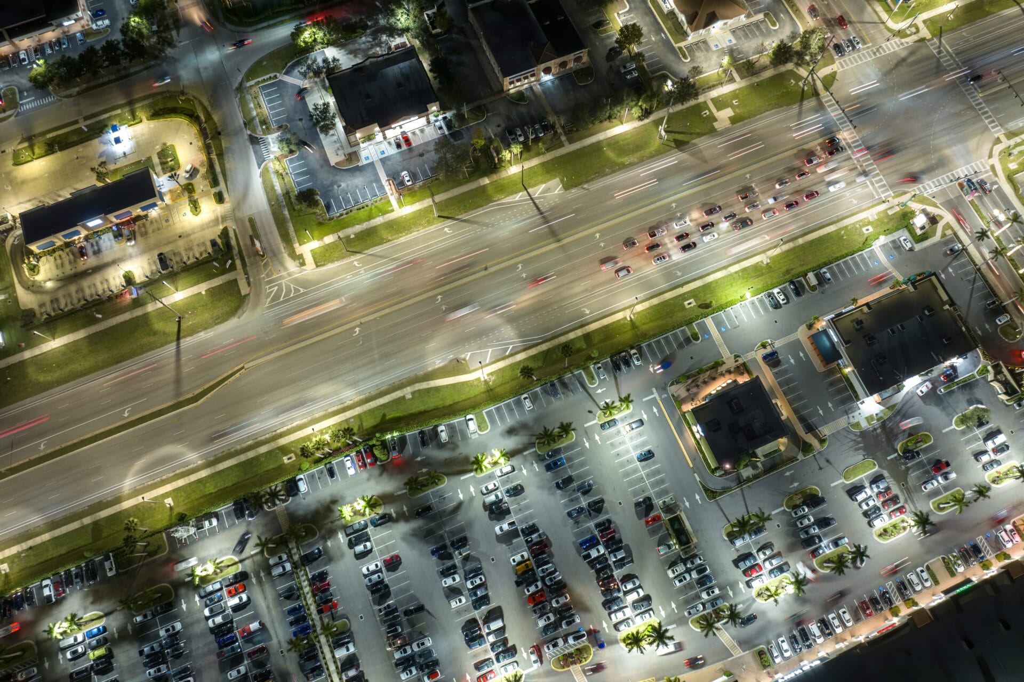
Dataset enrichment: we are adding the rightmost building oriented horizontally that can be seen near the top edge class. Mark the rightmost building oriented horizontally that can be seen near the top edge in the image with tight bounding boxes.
[669,0,749,38]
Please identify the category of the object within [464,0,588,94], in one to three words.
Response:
building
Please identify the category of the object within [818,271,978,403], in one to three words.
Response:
building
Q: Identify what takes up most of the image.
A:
paved ground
